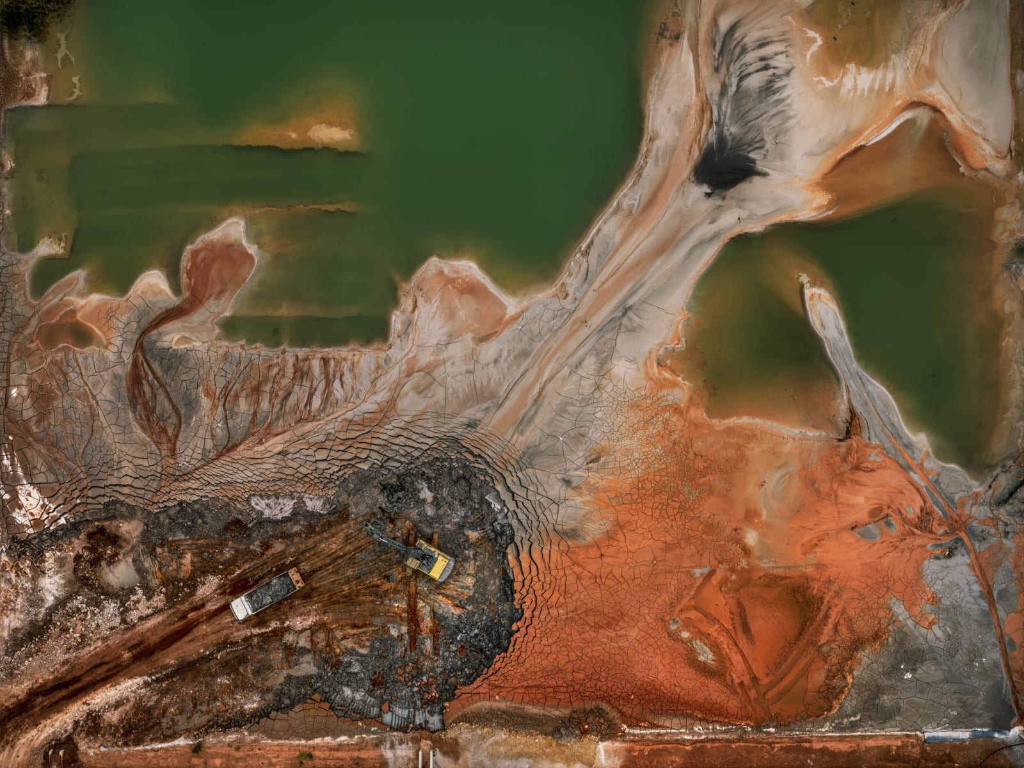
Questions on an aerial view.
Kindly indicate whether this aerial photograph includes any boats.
No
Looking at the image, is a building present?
No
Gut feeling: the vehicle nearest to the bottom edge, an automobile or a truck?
truck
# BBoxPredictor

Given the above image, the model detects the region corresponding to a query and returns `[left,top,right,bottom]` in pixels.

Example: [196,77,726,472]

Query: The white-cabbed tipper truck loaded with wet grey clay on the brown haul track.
[232,565,306,620]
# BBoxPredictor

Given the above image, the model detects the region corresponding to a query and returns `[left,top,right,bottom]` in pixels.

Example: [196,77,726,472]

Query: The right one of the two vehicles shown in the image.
[362,520,453,580]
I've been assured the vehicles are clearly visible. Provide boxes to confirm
[232,565,306,620]
[362,520,453,580]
